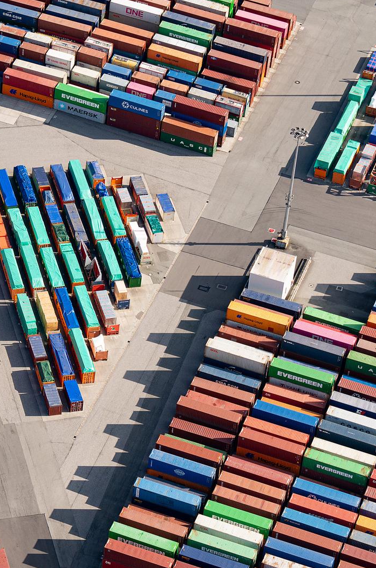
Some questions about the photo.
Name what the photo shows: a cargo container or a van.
cargo container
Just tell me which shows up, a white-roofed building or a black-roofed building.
white-roofed building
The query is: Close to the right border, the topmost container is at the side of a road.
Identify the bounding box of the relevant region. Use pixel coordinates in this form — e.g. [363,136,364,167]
[346,73,372,114]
